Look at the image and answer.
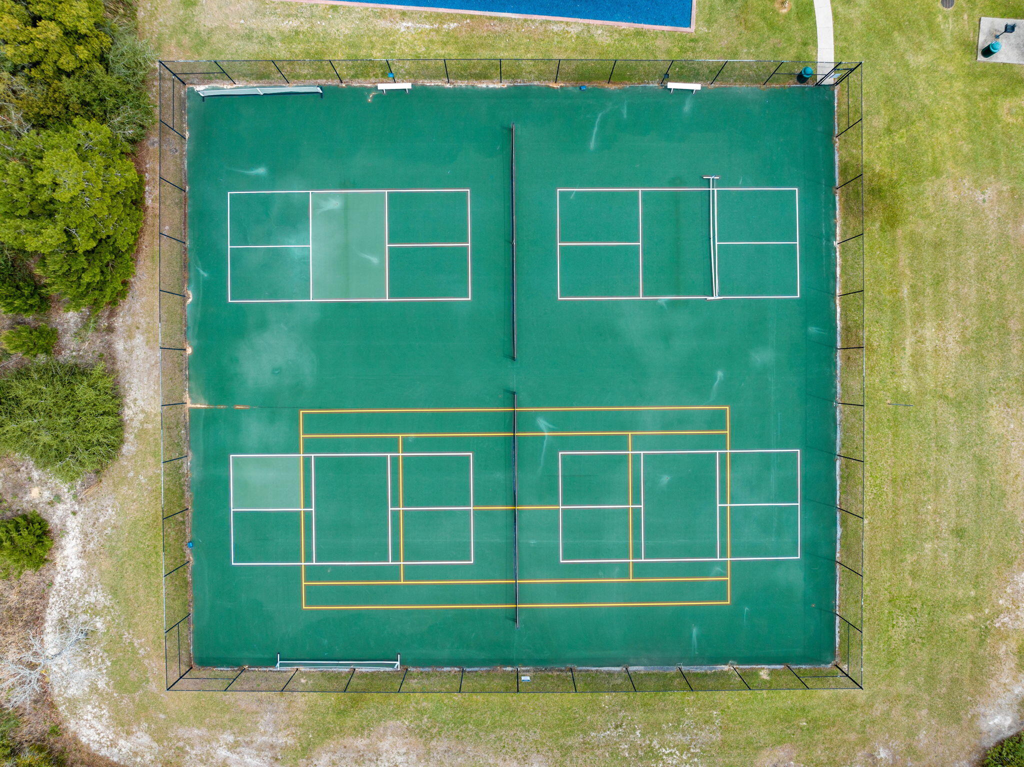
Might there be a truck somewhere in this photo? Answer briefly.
No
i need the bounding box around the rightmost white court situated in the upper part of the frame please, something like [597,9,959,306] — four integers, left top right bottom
[556,187,801,301]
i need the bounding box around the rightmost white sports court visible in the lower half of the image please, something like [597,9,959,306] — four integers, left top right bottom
[558,449,801,563]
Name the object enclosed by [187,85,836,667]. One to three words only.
sports court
